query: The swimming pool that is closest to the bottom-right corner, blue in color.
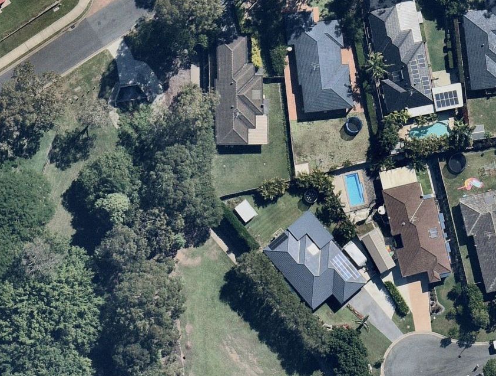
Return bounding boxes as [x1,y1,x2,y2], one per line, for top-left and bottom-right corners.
[344,170,366,208]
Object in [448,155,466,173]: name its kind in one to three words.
trampoline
